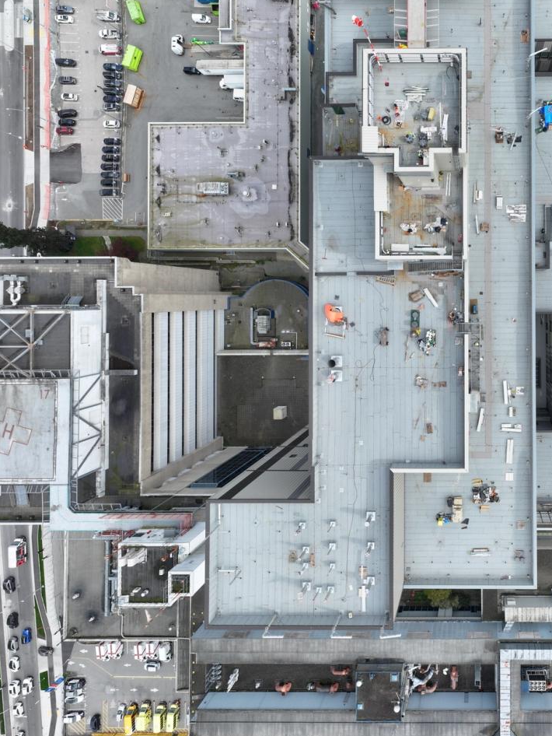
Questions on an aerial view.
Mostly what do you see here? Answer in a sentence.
What you mostly see from above here is buildings.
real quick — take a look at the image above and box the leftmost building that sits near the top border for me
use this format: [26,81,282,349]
[148,0,312,268]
